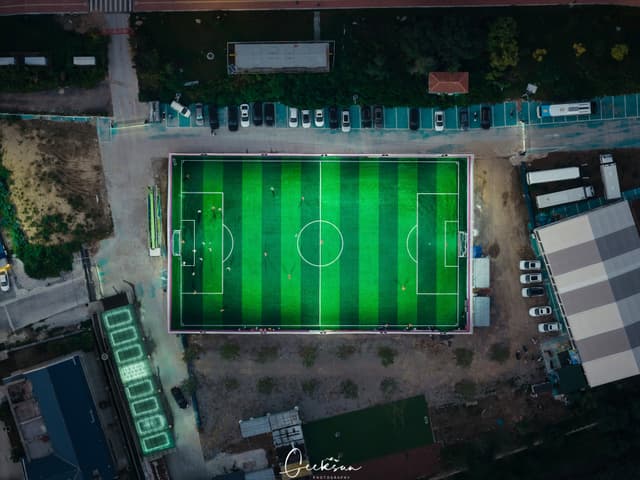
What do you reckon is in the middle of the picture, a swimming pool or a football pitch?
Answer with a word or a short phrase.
football pitch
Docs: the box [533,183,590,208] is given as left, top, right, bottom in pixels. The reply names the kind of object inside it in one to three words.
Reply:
truck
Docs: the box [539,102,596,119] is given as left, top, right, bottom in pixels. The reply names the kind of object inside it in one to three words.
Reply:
vehicle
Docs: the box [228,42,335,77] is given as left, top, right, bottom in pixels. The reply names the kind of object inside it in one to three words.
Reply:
building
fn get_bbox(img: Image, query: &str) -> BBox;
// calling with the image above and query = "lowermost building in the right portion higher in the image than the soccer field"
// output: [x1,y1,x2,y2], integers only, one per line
[429,72,468,95]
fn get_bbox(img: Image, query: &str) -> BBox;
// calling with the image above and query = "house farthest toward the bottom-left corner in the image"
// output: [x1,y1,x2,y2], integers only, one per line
[4,356,121,480]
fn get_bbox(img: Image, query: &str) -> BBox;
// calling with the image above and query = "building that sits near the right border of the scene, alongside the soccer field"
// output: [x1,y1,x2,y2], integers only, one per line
[529,196,640,389]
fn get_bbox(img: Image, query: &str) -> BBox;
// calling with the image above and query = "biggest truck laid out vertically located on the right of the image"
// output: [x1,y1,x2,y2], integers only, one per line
[594,156,620,201]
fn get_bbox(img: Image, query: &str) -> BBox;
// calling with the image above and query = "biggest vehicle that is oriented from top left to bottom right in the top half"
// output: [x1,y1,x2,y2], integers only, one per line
[169,99,193,120]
